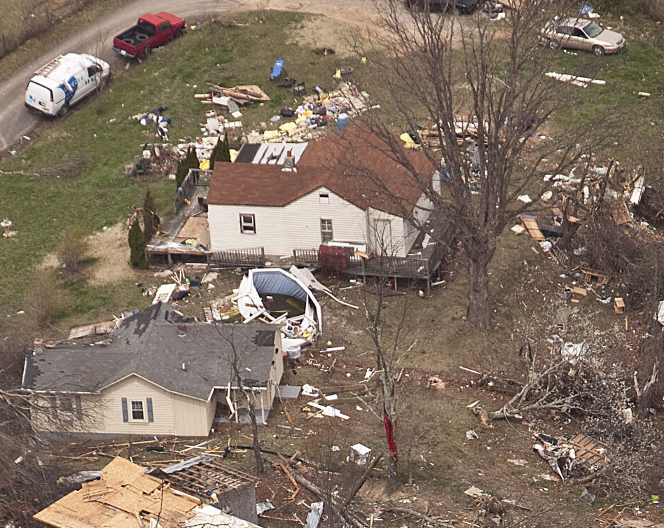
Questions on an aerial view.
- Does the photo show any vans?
Yes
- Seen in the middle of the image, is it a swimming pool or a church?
swimming pool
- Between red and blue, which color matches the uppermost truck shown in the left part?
red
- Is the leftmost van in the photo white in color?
Yes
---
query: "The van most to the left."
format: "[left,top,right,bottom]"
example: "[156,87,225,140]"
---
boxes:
[25,58,109,117]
